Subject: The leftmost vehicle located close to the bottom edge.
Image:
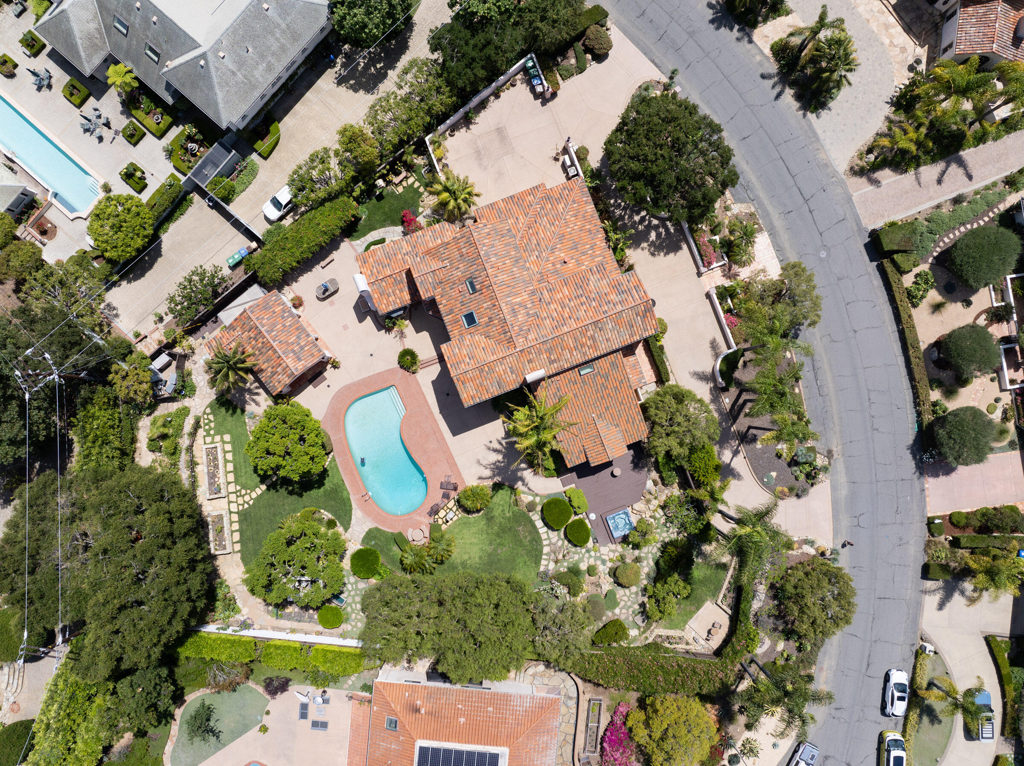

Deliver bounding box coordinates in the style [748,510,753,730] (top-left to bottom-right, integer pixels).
[784,737,819,766]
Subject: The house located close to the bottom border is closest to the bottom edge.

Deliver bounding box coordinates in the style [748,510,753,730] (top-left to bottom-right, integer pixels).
[366,655,562,766]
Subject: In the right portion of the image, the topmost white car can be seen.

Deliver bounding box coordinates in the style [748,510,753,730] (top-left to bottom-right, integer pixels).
[882,669,910,718]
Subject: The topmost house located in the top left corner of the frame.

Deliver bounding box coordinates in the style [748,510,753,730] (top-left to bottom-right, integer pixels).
[28,0,338,138]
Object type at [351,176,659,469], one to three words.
house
